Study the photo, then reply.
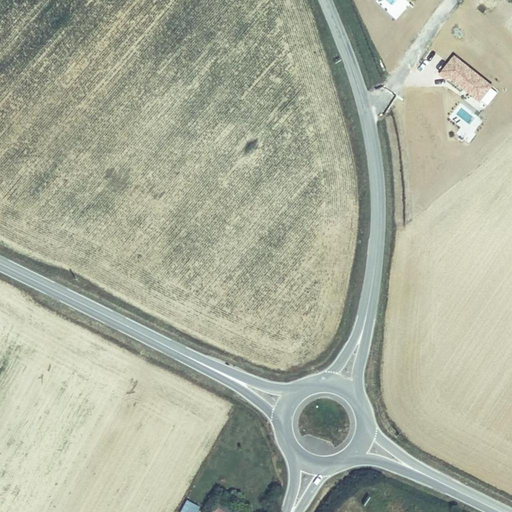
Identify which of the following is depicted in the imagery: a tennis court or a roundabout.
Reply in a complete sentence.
The image shows a roundabout.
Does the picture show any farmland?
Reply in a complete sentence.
Yes, there is farmland in the image.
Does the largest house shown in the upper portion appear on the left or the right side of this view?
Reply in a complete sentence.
It is on the right.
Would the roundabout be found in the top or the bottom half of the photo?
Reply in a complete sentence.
You can find the roundabout in the bottom half.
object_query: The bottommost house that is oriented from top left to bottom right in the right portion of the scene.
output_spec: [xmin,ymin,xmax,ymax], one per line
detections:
[440,52,498,108]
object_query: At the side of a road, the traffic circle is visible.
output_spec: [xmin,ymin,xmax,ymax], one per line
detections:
[268,370,378,478]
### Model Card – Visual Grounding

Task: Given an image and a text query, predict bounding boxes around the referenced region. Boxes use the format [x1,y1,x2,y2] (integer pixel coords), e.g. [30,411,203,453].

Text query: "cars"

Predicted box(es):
[434,79,445,84]
[427,50,435,61]
[418,60,426,71]
[313,475,322,486]
[436,60,446,70]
